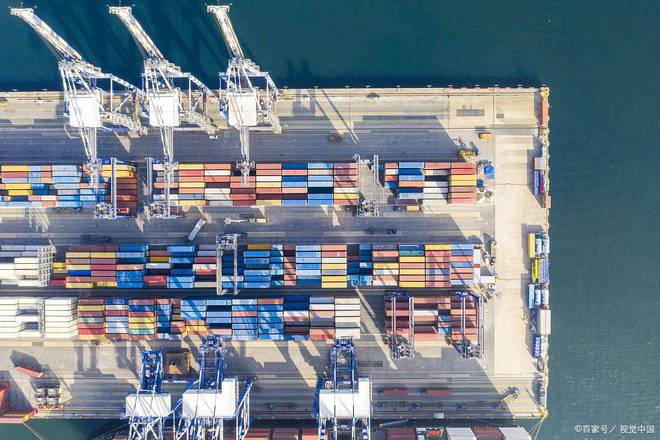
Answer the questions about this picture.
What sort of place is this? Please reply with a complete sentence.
This looks like a port.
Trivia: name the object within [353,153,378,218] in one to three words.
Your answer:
container crane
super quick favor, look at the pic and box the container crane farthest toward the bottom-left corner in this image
[124,349,198,440]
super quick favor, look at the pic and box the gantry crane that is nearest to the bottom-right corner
[450,292,484,361]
